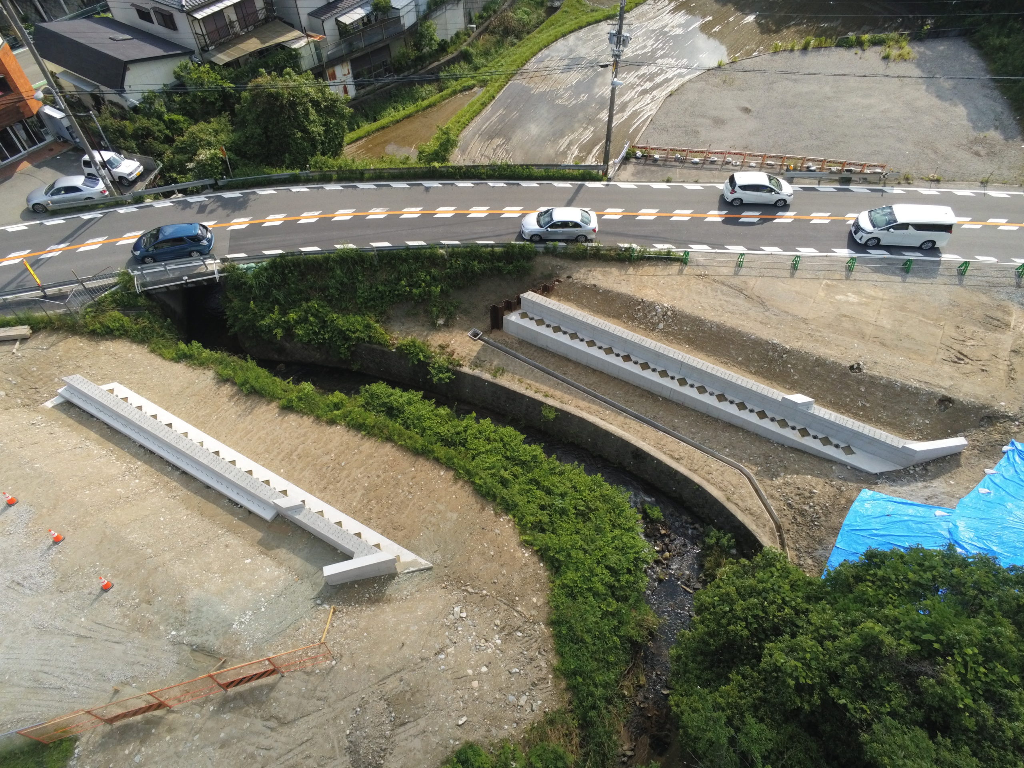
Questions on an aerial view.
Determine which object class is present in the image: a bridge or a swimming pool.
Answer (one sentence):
The image shows a bridge.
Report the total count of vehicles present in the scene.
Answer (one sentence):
The picture shows 6 vehicles.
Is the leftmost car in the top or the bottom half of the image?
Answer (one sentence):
You can find the leftmost car in the top half.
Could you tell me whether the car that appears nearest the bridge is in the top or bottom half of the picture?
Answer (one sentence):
Seen from above, the car that appears nearest the bridge lies in the top half of the view.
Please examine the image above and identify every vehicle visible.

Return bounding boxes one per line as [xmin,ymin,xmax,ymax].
[81,143,142,185]
[19,170,103,212]
[851,203,956,250]
[130,223,213,263]
[723,171,797,207]
[521,208,599,244]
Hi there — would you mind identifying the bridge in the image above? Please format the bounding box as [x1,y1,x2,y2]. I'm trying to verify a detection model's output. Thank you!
[136,262,238,351]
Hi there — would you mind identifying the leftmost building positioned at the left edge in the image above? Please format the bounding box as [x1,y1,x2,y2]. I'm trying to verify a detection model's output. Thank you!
[0,43,55,165]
